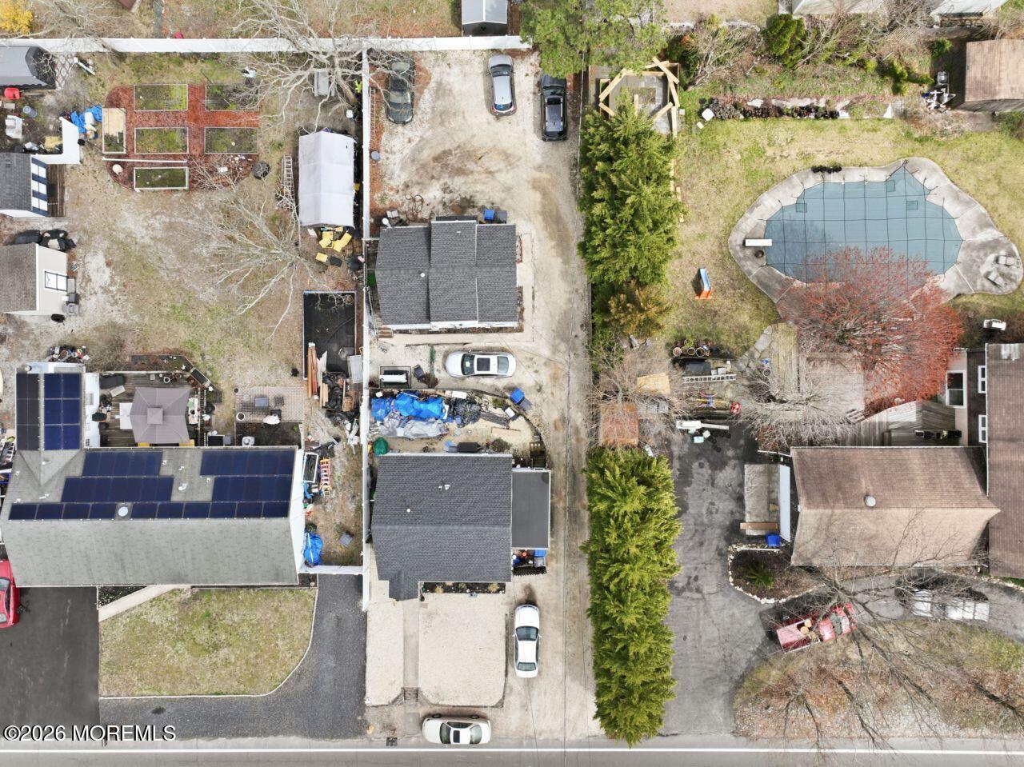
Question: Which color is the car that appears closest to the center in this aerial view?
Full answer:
From above, the car that appears closest to the center appears white.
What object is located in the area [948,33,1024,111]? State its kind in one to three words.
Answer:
shed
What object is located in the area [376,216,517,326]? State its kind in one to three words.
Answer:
house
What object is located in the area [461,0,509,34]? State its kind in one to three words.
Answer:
shed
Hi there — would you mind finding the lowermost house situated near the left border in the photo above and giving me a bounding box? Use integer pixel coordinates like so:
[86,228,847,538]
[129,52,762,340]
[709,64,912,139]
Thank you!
[0,372,304,588]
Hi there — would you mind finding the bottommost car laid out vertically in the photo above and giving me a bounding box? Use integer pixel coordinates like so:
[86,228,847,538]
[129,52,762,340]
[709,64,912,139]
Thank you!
[510,602,543,676]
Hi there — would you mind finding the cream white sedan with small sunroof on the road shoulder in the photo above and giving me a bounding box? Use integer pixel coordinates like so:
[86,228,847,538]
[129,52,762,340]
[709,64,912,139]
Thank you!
[423,710,491,748]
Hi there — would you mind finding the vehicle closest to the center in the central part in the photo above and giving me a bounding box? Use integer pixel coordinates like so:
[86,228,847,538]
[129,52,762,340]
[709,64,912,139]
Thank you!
[446,348,517,381]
